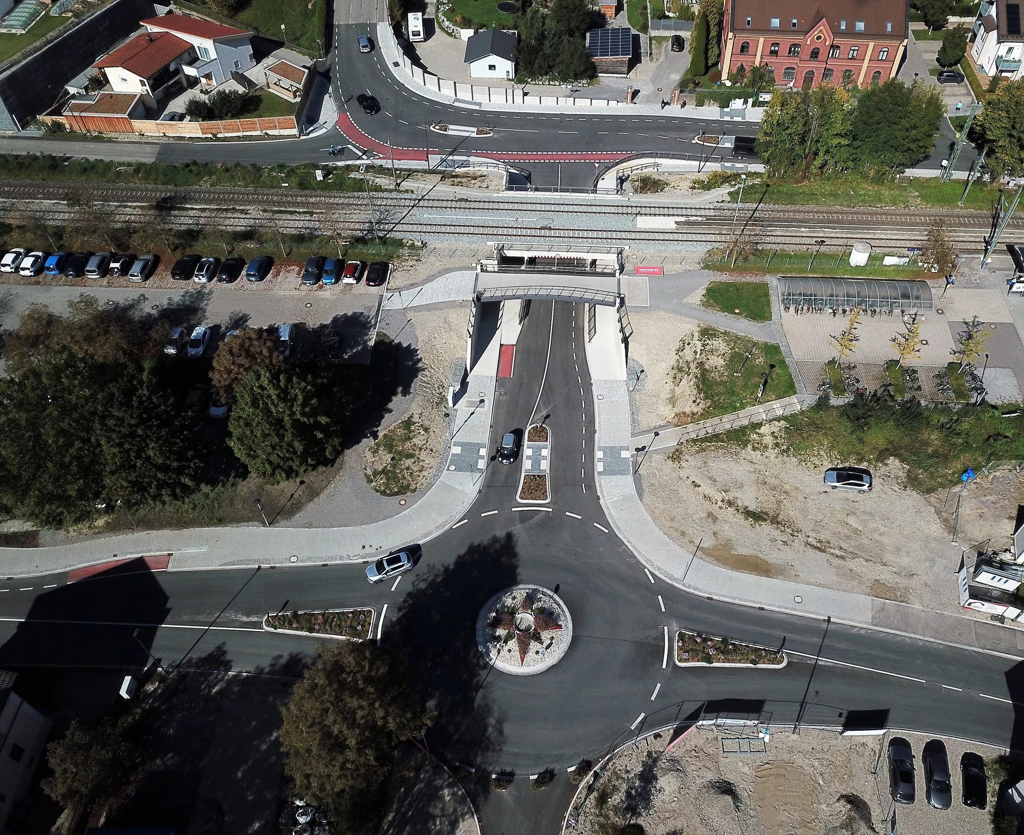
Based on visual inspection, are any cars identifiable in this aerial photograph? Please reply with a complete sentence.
Yes, there's a car down there.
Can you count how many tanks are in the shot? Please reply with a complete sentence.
The picture shows no tanks.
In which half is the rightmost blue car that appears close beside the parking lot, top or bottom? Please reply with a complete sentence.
It is in the top half that the rightmost blue car that appears close beside the parking lot appears.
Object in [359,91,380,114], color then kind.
black car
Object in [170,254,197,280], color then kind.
black car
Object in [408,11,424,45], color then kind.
white camper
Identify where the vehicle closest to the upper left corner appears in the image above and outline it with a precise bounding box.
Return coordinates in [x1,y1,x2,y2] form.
[158,107,192,123]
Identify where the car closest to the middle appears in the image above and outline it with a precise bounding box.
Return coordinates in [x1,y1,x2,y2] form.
[497,429,519,466]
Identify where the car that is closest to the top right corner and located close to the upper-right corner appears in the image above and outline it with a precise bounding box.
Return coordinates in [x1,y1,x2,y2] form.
[937,66,969,83]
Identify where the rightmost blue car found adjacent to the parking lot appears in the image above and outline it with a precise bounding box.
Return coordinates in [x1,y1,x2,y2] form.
[318,255,340,282]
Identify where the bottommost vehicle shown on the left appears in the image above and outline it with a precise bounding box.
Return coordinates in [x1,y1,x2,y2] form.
[360,547,416,586]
